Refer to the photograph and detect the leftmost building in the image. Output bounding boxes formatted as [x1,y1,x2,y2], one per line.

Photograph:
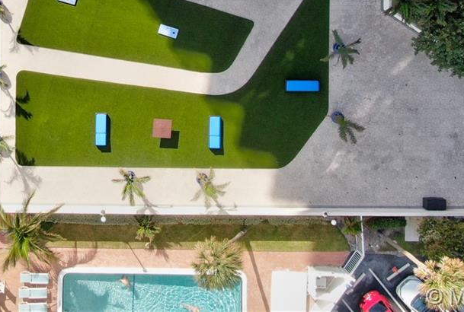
[268,264,308,312]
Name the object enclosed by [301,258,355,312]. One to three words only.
building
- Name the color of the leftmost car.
red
